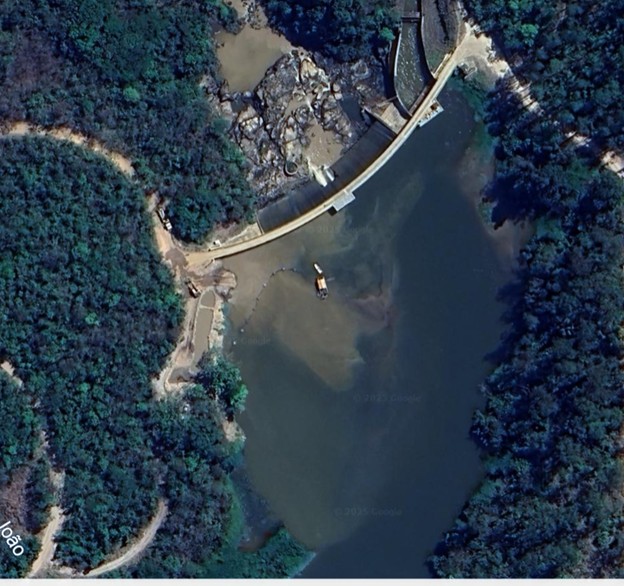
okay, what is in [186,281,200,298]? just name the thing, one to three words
vehicle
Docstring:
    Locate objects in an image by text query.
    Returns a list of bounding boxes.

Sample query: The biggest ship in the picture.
[317,276,333,299]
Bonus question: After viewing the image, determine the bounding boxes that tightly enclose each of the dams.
[208,40,465,259]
